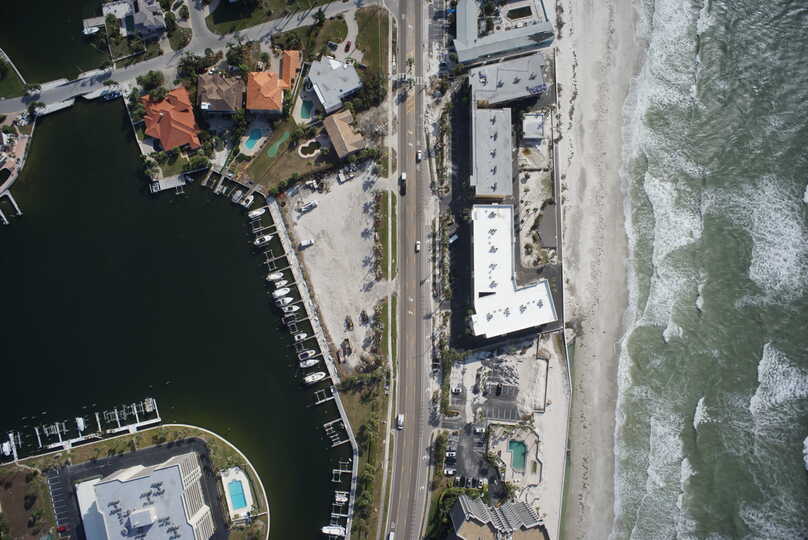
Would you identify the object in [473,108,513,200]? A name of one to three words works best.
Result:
building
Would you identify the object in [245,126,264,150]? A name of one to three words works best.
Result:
swimming pool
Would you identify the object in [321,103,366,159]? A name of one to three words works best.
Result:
house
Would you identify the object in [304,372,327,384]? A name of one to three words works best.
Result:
boat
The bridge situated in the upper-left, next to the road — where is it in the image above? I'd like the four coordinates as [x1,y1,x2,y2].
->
[39,68,112,112]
